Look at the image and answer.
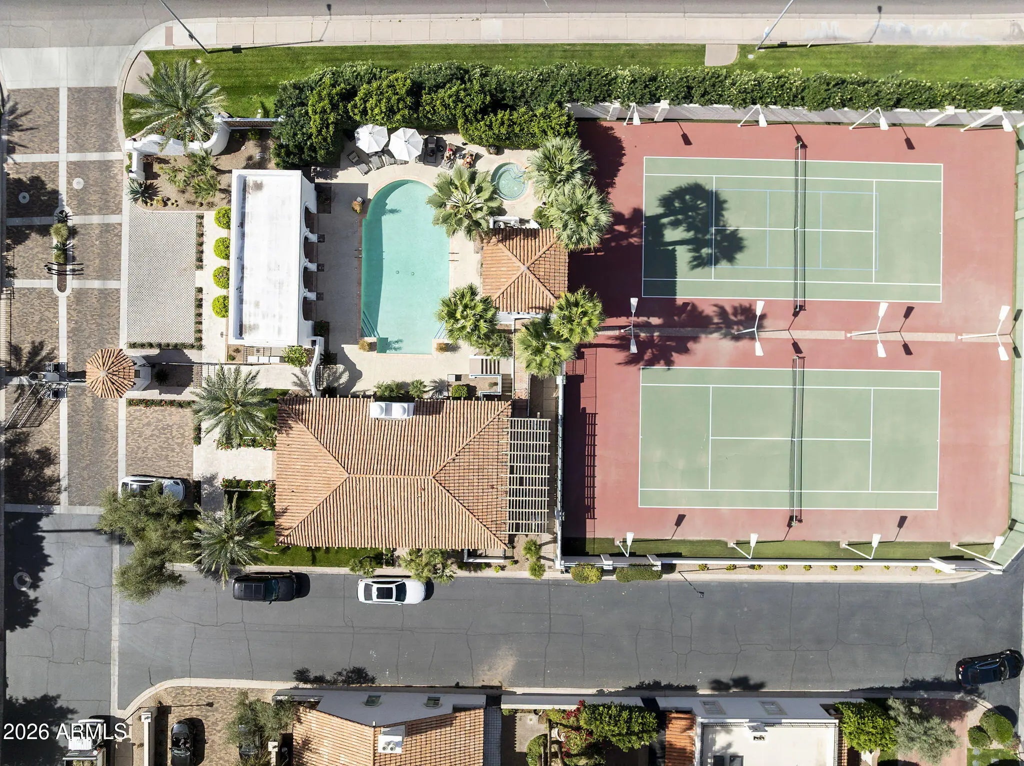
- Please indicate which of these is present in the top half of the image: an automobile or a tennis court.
tennis court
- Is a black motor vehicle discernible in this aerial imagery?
Yes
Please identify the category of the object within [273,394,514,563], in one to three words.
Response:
building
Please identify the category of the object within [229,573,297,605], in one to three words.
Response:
car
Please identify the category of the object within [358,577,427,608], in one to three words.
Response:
car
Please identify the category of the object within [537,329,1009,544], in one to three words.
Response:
tennis court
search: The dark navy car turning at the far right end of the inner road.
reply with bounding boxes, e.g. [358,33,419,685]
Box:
[955,651,1023,688]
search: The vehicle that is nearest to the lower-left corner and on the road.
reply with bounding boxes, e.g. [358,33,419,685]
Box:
[60,721,107,766]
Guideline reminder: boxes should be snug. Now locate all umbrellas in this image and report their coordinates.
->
[389,126,425,161]
[354,119,390,153]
